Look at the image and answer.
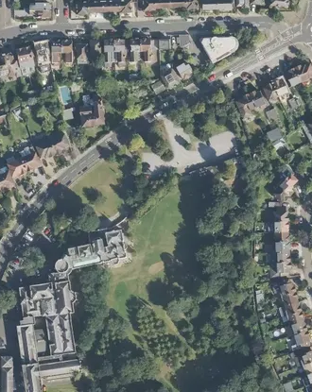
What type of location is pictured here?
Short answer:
residential area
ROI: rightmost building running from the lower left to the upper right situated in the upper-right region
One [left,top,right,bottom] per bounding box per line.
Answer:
[289,53,312,85]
